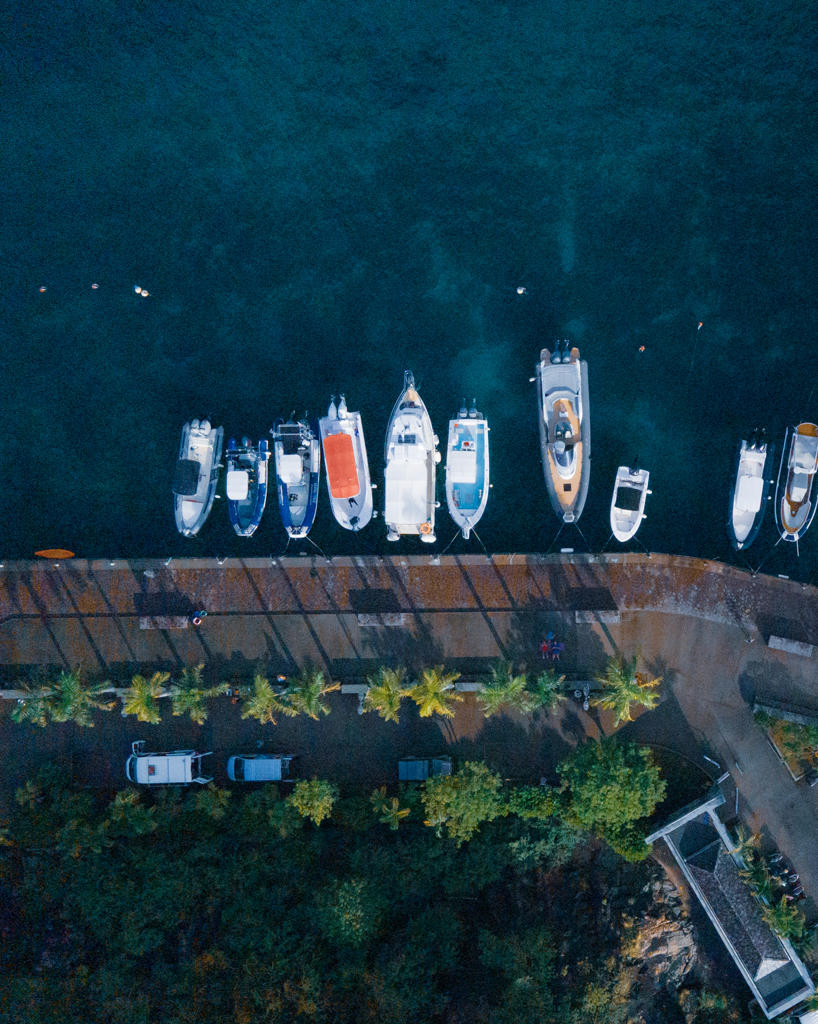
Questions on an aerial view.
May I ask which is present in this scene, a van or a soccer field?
van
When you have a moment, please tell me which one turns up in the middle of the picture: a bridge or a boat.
boat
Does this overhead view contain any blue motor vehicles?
Yes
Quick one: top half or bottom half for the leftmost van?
bottom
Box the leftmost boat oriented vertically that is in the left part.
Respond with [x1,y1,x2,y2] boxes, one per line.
[172,419,223,537]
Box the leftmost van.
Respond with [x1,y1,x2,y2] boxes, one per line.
[127,736,217,787]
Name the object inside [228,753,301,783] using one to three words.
van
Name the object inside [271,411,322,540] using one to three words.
boat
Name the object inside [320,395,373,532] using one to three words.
boat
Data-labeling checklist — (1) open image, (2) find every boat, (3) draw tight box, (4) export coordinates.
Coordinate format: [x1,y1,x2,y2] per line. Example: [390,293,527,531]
[226,436,269,537]
[725,430,773,549]
[384,370,436,536]
[537,340,592,523]
[446,398,489,539]
[271,411,322,540]
[320,395,373,532]
[172,419,223,537]
[774,422,818,541]
[611,456,649,543]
